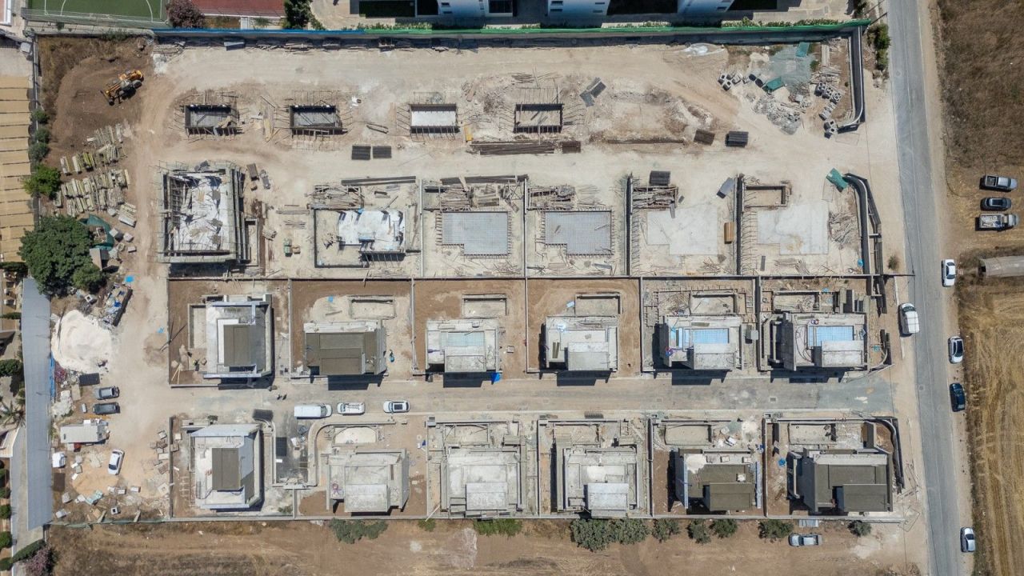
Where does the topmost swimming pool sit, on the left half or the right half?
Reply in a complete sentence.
You can find the topmost swimming pool on the right side of the picture.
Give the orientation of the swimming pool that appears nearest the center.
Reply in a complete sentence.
The swimming pool that appears nearest the center is laid out horizontally.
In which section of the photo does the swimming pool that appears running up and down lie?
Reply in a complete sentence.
The swimming pool that appears running up and down is located in the left region of the scene.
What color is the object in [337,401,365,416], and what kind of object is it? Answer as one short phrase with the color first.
white vehicle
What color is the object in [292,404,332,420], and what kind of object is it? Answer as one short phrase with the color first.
white vehicle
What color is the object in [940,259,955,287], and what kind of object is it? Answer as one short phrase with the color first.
white car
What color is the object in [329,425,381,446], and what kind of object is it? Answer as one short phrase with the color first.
white swimming pool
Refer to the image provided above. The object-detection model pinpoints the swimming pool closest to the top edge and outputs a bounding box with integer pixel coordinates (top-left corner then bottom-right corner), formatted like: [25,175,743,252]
[741,185,789,207]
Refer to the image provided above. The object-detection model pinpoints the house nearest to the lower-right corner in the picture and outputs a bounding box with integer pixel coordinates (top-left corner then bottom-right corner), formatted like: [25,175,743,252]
[799,445,892,512]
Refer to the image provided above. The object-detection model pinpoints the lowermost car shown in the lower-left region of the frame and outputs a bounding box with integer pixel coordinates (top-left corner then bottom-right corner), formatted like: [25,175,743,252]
[108,448,127,475]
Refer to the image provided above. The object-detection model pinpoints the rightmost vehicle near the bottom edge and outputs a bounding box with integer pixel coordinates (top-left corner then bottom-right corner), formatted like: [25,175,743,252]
[959,526,975,552]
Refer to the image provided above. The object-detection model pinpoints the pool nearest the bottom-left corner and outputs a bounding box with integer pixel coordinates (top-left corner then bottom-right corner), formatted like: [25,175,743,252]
[188,304,210,348]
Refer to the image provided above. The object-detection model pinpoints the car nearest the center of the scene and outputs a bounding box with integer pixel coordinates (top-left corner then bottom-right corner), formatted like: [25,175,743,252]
[384,400,410,414]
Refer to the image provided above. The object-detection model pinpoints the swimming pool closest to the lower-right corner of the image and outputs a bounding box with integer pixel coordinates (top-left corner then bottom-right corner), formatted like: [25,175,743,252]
[786,422,833,444]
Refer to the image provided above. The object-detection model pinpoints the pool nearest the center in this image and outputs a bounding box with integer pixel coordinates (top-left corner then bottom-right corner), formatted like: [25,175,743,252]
[462,294,507,317]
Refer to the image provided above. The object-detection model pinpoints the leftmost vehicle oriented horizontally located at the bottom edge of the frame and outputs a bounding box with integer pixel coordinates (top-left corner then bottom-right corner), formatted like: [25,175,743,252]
[787,532,821,548]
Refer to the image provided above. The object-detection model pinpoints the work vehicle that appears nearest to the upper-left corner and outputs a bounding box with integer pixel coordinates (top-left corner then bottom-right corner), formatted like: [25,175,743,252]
[104,70,145,105]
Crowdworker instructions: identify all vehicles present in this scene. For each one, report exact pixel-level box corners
[947,382,964,411]
[947,337,963,363]
[108,448,127,475]
[940,259,955,287]
[292,404,332,420]
[787,532,821,548]
[959,526,975,552]
[979,214,1017,230]
[92,402,121,415]
[899,303,920,335]
[384,400,410,414]
[104,70,145,105]
[979,176,1015,191]
[337,401,365,416]
[980,198,1011,212]
[94,386,122,400]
